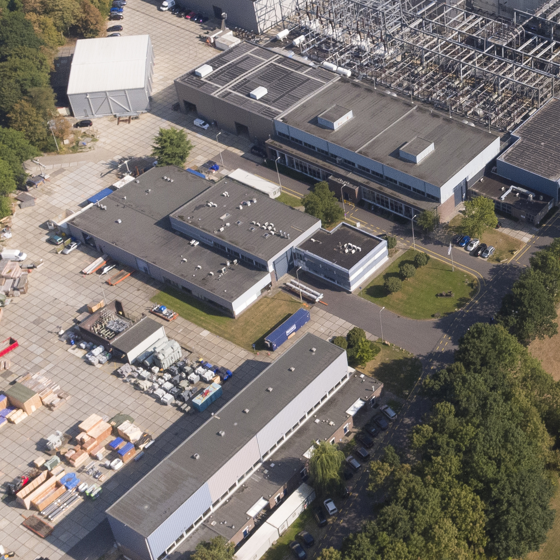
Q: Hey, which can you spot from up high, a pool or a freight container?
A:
freight container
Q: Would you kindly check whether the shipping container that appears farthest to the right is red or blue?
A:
blue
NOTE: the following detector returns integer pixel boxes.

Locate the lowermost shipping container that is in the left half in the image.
[191,382,224,414]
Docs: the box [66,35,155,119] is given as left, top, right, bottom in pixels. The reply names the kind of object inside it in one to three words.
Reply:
building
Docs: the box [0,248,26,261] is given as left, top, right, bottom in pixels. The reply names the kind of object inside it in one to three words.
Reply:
vehicle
